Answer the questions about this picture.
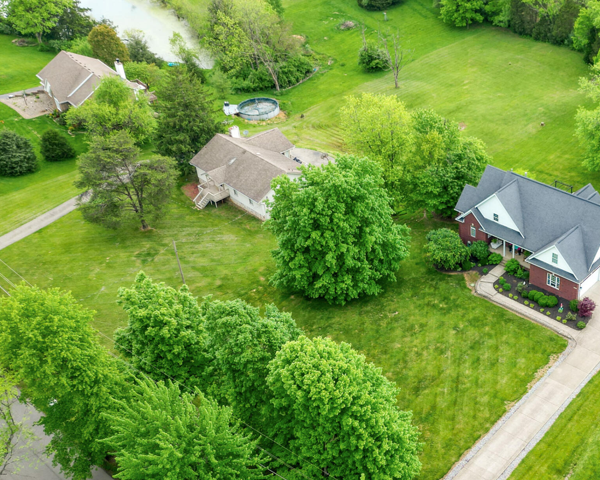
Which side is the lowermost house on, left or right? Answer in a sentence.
The lowermost house sits on the right side.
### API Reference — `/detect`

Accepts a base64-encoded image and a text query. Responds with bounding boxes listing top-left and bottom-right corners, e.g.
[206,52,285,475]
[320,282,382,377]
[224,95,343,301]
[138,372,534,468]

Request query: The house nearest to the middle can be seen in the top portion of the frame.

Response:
[187,110,308,219]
